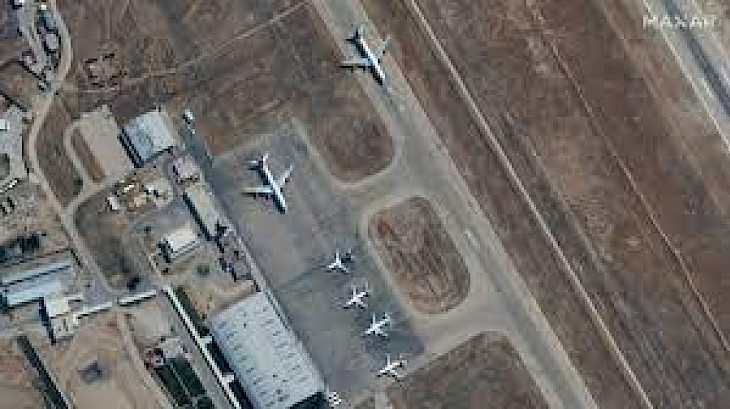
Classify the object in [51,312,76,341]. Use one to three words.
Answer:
building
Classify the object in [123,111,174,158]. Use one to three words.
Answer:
hangar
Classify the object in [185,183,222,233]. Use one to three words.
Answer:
building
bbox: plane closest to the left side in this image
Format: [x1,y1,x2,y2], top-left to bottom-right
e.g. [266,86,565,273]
[242,155,296,213]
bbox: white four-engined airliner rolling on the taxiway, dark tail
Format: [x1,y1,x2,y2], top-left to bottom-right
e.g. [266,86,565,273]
[341,27,392,83]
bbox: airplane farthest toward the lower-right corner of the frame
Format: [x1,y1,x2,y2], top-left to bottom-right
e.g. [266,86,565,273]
[379,355,406,378]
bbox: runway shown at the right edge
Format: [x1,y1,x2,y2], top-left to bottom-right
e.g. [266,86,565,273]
[644,0,730,147]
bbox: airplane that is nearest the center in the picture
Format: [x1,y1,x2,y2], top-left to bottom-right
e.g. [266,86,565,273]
[329,248,355,269]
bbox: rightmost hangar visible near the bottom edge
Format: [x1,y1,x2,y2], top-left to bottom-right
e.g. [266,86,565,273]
[207,291,324,409]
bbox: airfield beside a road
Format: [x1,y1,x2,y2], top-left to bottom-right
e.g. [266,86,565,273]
[204,0,730,409]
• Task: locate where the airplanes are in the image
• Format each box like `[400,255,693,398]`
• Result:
[366,314,392,336]
[242,155,296,213]
[329,248,355,269]
[379,355,406,378]
[346,287,371,309]
[341,27,392,83]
